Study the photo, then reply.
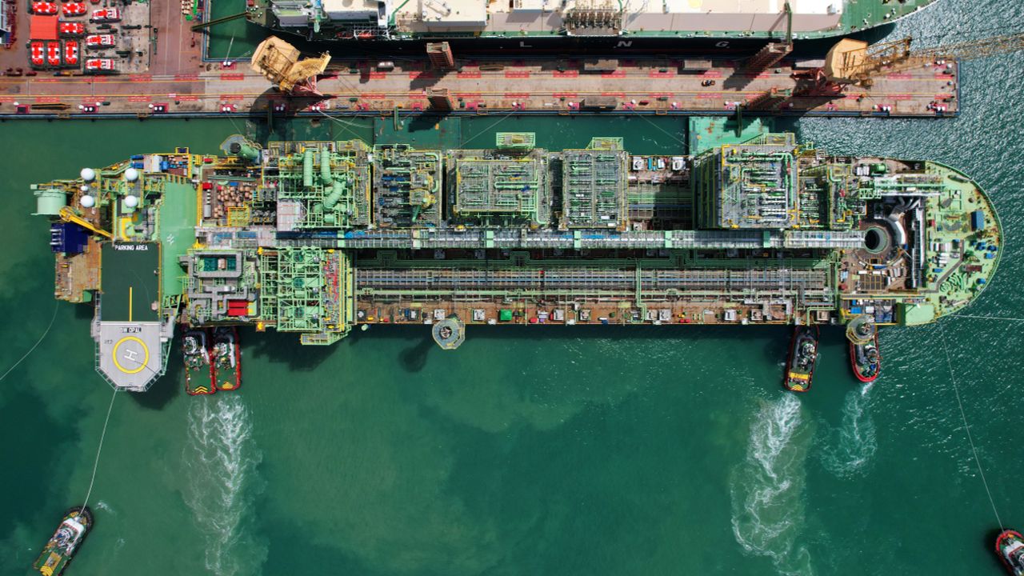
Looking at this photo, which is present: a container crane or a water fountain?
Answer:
container crane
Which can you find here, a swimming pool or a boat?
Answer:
boat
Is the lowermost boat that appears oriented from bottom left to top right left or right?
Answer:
left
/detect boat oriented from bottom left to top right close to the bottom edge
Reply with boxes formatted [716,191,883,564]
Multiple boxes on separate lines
[29,506,95,576]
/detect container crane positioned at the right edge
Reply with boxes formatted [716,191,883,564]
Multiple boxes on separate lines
[788,32,1024,99]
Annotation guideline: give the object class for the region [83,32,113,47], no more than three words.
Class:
boat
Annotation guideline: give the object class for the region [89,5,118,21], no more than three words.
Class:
boat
